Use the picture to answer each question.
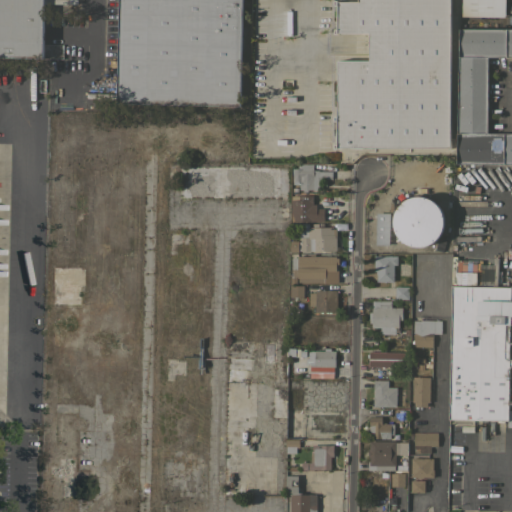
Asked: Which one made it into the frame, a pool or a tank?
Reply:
tank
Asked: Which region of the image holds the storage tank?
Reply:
right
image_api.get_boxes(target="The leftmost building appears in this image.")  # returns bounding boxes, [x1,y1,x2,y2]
[0,0,45,59]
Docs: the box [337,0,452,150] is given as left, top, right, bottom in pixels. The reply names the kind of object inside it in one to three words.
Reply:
warehouse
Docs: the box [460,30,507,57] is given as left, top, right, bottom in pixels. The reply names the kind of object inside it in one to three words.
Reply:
building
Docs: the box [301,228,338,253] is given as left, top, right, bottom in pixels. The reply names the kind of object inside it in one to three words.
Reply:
house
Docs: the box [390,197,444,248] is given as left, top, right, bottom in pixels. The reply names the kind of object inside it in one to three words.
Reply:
storage tank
